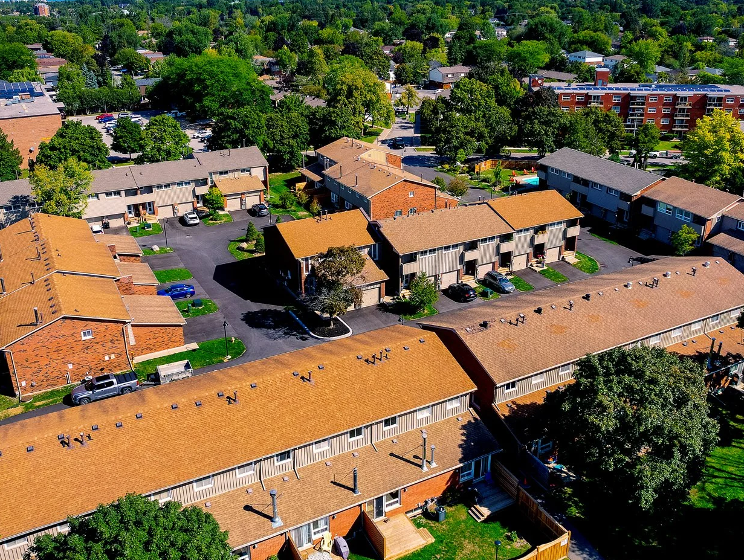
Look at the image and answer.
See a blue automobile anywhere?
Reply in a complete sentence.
Yes, the photo shows a blue automobile.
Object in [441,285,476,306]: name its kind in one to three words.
car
